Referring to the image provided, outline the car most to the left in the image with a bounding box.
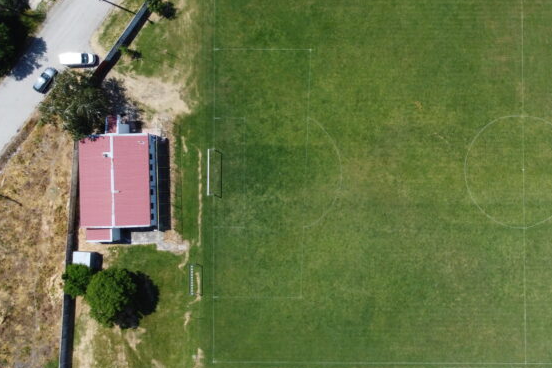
[31,68,57,92]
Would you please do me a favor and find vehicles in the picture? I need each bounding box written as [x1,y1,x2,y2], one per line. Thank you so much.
[55,51,95,66]
[31,68,57,92]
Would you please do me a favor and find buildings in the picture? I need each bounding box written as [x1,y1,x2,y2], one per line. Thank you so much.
[79,116,158,239]
[73,249,99,267]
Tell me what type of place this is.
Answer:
sports ground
